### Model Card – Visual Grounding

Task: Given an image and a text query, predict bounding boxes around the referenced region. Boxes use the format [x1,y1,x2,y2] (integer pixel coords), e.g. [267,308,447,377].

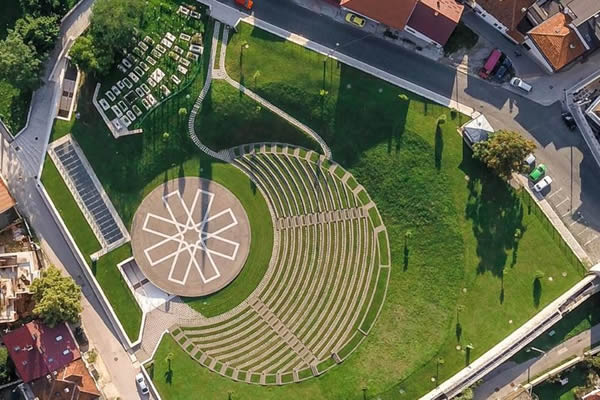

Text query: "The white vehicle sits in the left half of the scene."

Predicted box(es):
[135,371,152,395]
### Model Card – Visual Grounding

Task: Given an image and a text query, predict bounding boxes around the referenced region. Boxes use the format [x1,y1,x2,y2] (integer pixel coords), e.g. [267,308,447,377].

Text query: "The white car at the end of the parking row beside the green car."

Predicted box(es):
[530,174,554,193]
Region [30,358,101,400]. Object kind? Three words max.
house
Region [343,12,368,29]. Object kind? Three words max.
car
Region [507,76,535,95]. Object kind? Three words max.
car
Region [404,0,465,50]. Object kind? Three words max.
house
